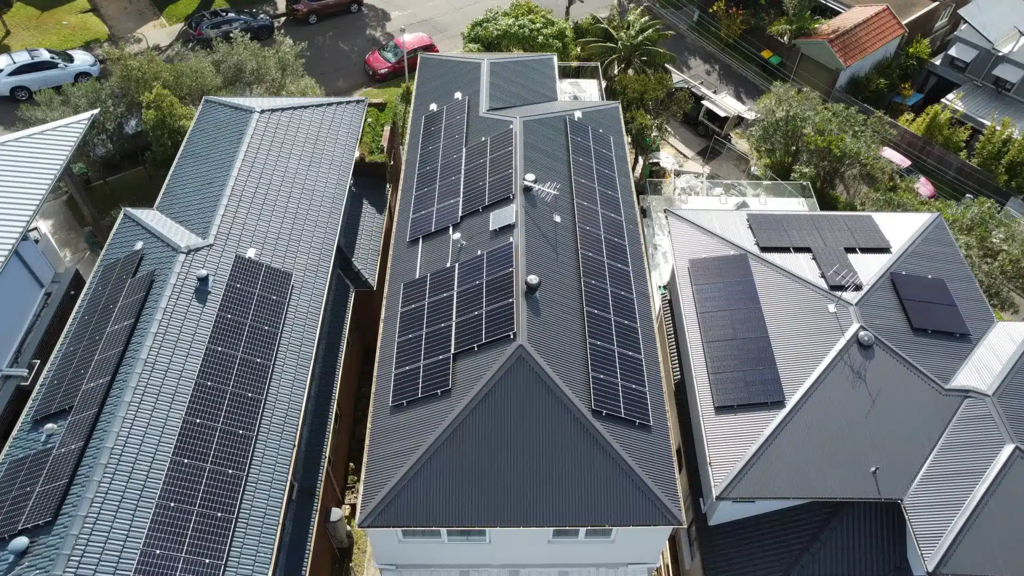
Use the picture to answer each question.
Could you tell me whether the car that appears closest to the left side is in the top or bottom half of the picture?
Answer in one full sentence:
You can find the car that appears closest to the left side in the top half.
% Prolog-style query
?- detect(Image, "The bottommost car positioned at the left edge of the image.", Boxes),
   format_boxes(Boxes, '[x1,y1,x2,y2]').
[0,41,103,102]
